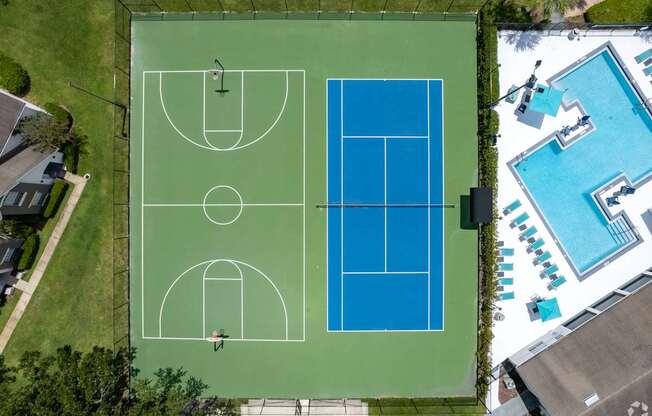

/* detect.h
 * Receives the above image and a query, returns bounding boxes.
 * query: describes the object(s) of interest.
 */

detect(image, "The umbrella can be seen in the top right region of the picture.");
[528,83,562,117]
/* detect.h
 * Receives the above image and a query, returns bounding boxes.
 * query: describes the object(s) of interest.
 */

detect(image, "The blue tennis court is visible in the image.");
[327,78,443,331]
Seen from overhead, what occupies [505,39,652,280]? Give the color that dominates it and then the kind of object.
blue swimming pool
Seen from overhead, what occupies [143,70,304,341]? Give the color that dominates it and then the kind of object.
green basketball court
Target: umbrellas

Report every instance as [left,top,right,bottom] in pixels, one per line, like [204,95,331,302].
[528,83,562,117]
[533,297,562,322]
